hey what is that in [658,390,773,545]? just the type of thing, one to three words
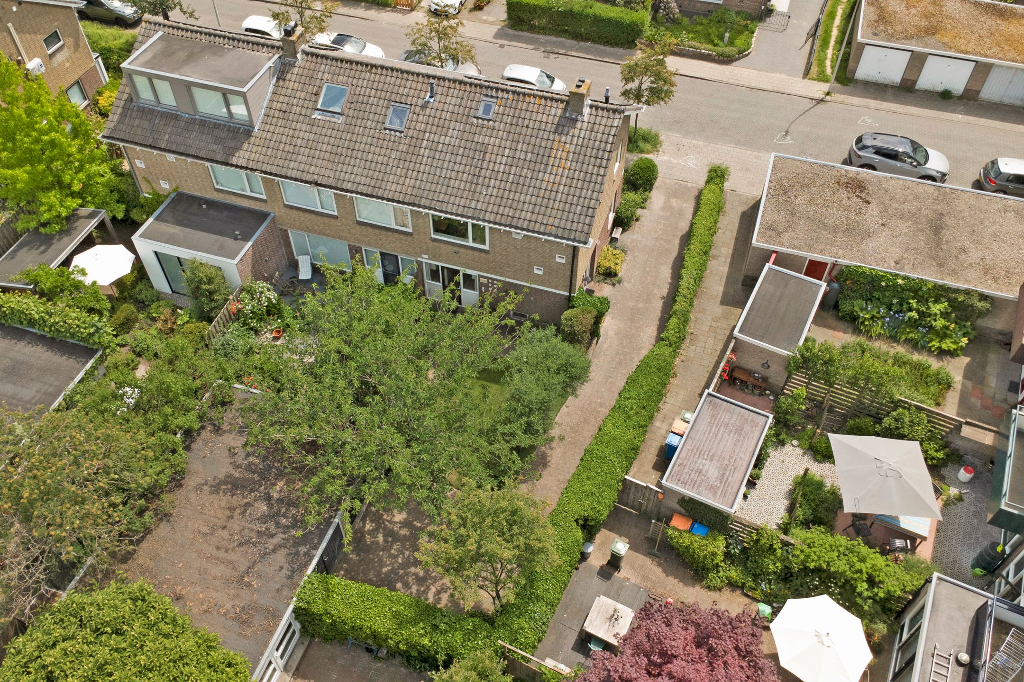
shed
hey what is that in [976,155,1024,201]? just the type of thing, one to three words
car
